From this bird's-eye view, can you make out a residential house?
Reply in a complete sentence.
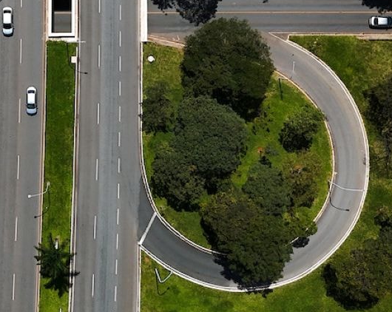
No, the scene contains no residential house.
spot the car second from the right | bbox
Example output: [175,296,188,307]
[25,86,38,115]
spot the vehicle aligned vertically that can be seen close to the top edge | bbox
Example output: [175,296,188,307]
[0,7,14,36]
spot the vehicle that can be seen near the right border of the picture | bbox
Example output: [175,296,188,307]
[369,15,392,29]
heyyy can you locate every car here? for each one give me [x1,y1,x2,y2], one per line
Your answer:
[25,86,38,115]
[369,15,392,29]
[0,7,14,36]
